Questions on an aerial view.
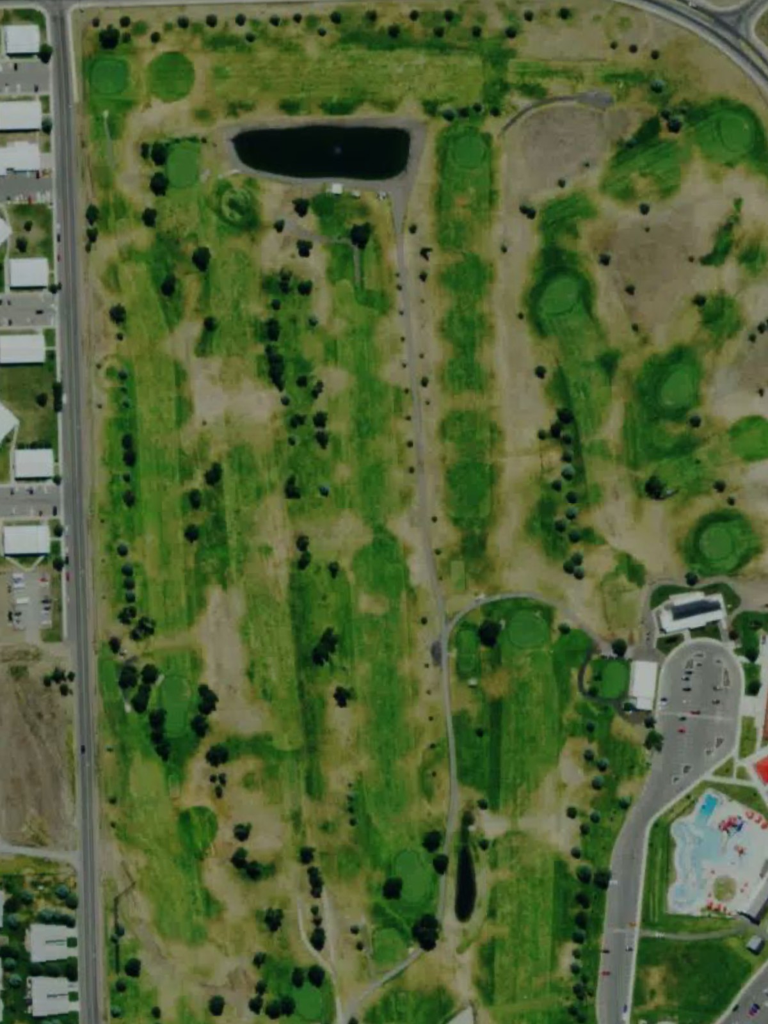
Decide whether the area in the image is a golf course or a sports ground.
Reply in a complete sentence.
It's a golf course.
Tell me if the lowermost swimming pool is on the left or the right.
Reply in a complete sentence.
The lowermost swimming pool sits on the right side.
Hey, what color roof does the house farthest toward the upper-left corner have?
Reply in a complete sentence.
The color of the roof on the house farthest toward the upper-left corner is white.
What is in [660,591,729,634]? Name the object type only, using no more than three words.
building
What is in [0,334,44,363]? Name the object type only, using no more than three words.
house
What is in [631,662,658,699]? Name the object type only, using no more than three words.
shed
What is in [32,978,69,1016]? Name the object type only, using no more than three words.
house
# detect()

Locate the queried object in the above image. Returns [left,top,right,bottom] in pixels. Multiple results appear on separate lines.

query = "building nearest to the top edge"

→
[4,24,39,52]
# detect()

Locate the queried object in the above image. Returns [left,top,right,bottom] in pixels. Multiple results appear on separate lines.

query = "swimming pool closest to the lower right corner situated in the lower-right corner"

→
[666,788,768,918]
